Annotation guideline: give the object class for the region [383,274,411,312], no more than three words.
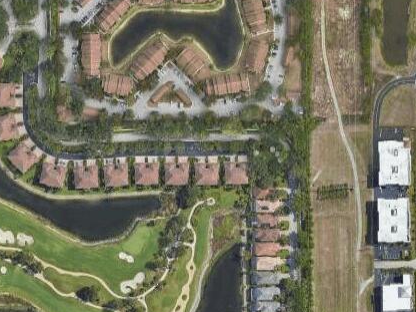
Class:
building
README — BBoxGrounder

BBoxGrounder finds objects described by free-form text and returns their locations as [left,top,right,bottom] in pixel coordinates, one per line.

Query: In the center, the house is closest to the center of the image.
[196,159,220,186]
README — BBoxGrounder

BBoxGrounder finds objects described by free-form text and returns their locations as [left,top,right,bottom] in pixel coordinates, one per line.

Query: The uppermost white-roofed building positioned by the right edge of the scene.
[378,138,412,185]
